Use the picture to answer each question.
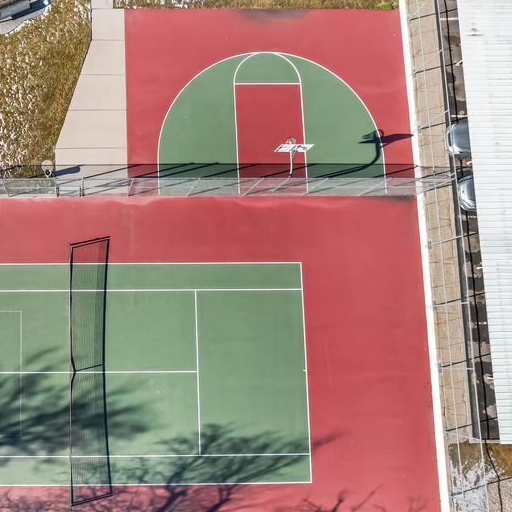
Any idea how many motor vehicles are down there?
2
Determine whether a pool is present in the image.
No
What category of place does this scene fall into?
sports ground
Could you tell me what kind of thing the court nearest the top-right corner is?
basketball court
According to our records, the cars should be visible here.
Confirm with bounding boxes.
[447,121,472,158]
[457,176,477,213]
